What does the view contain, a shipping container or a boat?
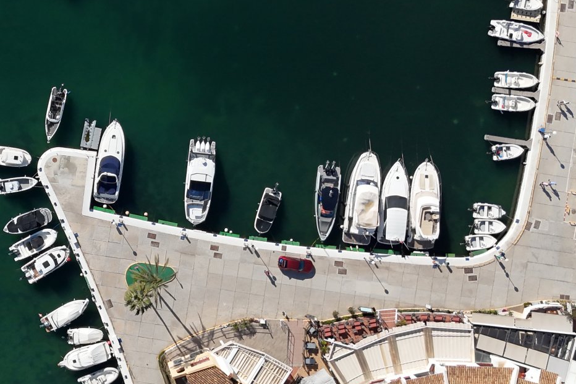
boat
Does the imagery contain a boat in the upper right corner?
Yes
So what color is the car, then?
red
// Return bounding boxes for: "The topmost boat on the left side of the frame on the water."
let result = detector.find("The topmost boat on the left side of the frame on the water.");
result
[45,78,68,144]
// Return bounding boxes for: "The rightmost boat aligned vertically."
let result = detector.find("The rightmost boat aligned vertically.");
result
[407,158,443,248]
